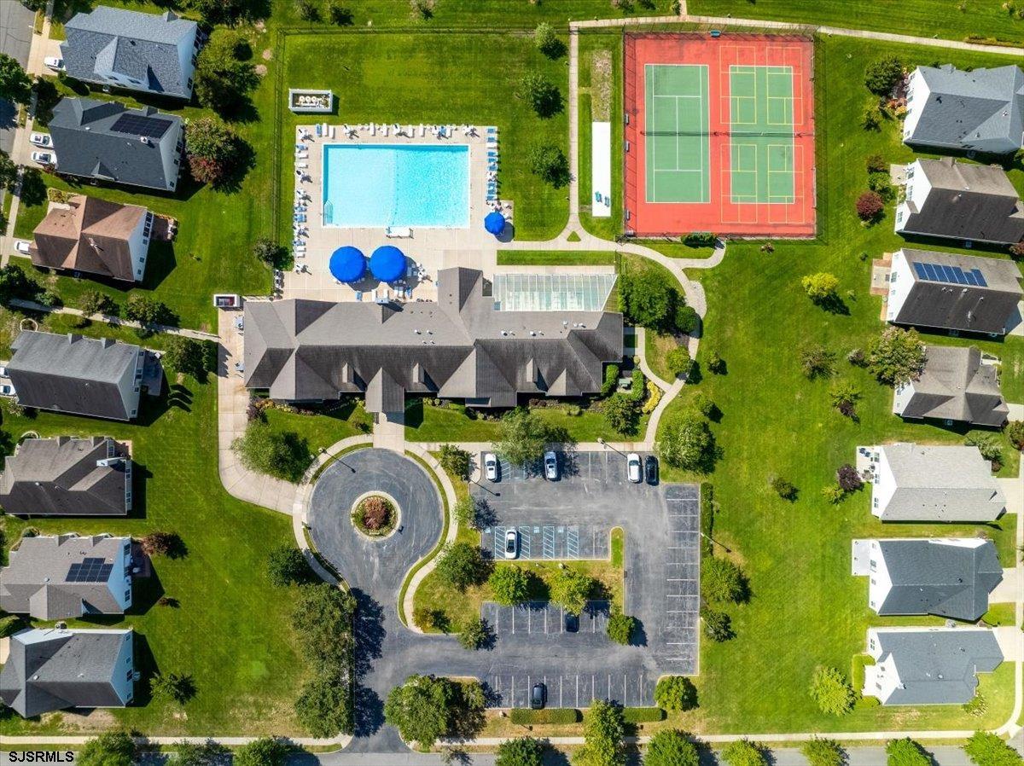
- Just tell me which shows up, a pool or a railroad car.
pool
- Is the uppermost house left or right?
left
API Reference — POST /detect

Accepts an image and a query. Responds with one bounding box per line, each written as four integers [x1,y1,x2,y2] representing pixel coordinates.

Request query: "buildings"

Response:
[889,155,1024,245]
[892,347,1015,426]
[901,63,1024,156]
[0,628,134,717]
[869,628,1003,705]
[245,266,623,413]
[56,5,203,104]
[870,539,1005,623]
[0,331,148,421]
[31,192,155,281]
[44,93,189,193]
[0,436,135,514]
[886,248,1024,337]
[872,442,1010,521]
[0,533,133,622]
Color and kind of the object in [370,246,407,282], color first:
blue umbrella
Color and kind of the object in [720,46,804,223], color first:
green sports court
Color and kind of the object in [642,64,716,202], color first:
green tennis court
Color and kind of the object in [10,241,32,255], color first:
white car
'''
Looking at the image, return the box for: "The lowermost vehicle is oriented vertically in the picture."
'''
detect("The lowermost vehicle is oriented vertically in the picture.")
[532,681,545,710]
